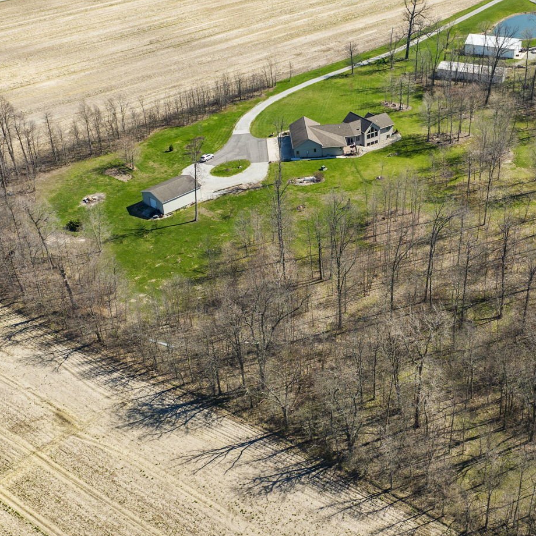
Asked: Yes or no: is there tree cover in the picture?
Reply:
Yes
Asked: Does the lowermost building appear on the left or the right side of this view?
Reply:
left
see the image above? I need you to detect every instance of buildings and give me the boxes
[289,107,396,157]
[435,61,505,83]
[139,172,204,213]
[464,35,519,58]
